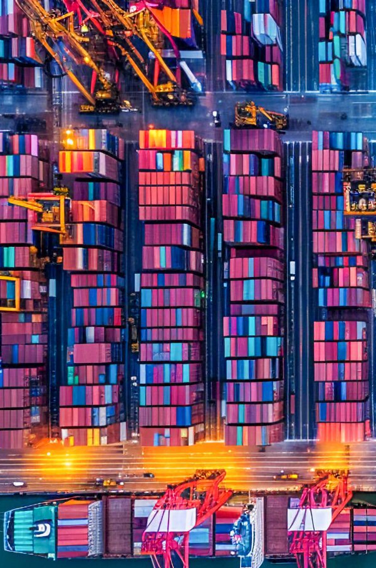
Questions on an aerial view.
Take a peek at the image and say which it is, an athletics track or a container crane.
container crane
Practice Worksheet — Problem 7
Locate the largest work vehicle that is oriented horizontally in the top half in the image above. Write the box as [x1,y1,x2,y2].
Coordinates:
[234,102,289,128]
